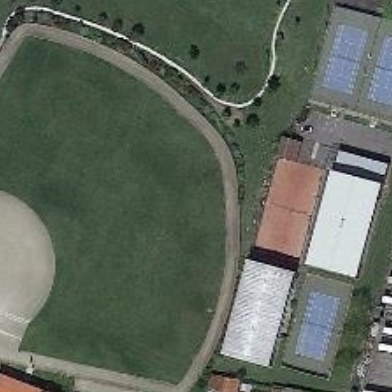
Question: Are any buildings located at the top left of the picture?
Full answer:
No, no building is visible at the top left of the picture.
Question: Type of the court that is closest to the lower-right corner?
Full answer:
It looks like the court that is closest to the lower-right corner is a tennis court.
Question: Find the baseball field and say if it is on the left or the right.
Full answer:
The baseball field is on the left side of the image.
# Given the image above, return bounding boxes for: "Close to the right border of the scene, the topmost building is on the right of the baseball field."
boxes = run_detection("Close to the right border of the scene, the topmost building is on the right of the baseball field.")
[333,149,387,176]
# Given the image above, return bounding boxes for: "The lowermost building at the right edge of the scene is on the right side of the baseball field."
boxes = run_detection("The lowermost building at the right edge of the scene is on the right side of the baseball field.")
[304,169,381,278]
